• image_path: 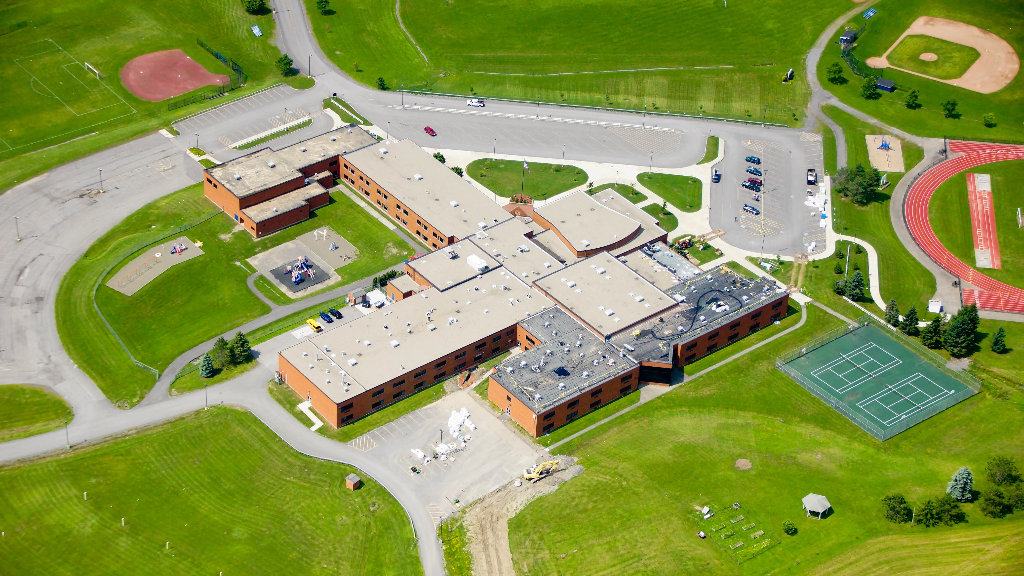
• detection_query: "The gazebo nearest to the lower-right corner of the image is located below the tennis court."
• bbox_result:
[802,494,832,520]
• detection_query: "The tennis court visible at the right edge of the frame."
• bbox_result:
[785,324,977,440]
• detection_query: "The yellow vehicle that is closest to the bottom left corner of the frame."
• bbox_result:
[305,318,322,331]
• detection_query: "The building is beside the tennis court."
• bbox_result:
[203,124,791,438]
